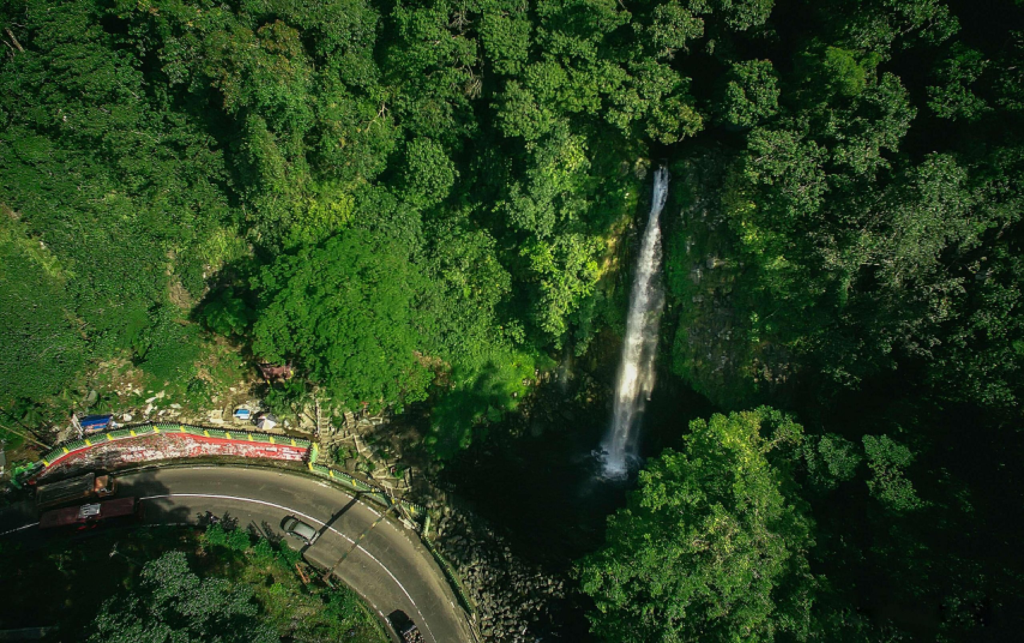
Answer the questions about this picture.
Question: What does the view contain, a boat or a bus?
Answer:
bus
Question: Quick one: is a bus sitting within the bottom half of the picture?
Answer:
Yes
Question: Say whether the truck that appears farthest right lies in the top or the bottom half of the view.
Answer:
bottom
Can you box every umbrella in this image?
[255,411,277,430]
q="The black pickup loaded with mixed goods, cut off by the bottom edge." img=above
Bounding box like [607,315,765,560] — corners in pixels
[391,606,427,643]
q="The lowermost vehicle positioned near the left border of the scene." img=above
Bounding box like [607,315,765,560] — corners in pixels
[41,496,148,539]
